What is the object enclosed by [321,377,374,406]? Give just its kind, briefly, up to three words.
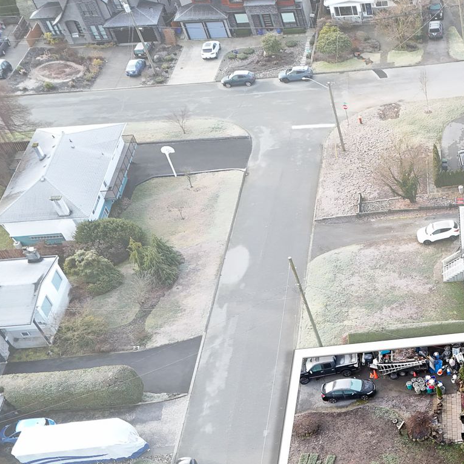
car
